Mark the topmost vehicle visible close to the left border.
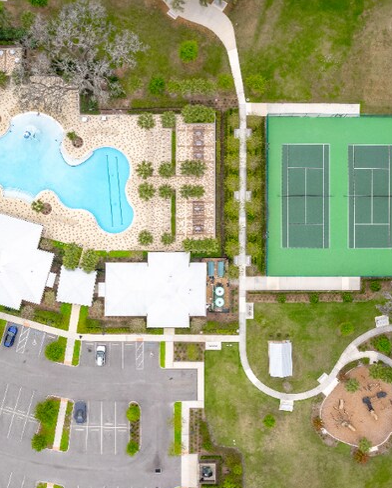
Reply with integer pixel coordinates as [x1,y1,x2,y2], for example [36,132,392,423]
[4,326,18,348]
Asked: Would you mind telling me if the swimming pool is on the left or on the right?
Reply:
left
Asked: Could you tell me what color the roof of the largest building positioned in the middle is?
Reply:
white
